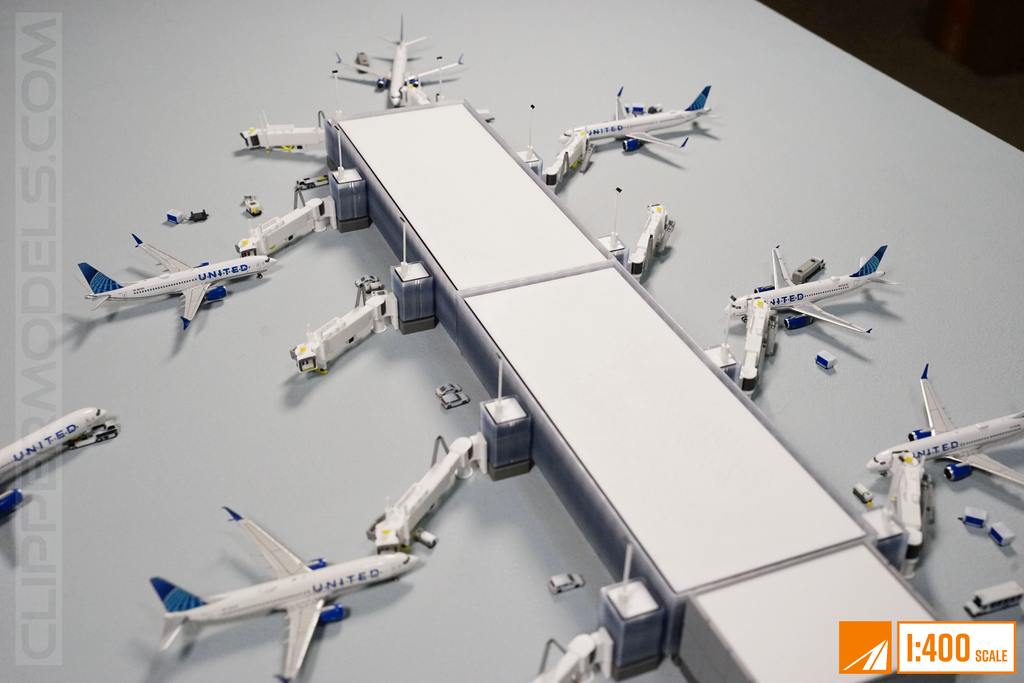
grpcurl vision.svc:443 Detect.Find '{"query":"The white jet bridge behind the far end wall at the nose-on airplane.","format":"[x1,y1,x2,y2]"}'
[401,78,439,107]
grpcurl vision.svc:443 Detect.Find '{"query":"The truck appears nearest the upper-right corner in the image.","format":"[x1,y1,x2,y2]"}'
[793,257,825,283]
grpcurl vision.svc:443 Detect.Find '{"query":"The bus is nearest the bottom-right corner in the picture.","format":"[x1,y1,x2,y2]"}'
[966,579,1024,616]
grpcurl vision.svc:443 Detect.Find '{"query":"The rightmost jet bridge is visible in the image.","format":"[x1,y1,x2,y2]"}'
[890,446,933,575]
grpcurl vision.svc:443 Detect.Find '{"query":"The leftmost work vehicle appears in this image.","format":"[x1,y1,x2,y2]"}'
[68,424,120,448]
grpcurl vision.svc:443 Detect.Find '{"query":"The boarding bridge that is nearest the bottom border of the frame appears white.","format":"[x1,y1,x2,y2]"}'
[527,626,614,683]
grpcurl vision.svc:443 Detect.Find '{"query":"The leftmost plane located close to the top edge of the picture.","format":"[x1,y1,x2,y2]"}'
[334,16,467,105]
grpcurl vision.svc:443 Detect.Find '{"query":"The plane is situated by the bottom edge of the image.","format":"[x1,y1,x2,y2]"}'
[143,507,416,683]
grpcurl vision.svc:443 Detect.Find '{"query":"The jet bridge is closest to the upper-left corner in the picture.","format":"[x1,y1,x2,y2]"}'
[241,113,327,158]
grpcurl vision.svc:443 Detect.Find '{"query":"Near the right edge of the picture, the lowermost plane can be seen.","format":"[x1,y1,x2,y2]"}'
[863,360,1024,485]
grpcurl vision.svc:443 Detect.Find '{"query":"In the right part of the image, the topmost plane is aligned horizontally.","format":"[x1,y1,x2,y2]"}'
[559,85,727,150]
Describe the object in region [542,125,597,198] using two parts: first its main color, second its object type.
white jet bridge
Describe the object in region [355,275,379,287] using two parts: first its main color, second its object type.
gray vehicle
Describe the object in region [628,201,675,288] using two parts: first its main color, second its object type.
white jet bridge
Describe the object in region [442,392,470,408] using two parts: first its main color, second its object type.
gray car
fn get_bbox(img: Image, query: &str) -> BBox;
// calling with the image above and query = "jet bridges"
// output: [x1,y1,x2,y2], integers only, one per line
[234,189,340,256]
[542,125,597,198]
[289,286,402,374]
[739,296,778,405]
[527,626,614,683]
[241,113,327,158]
[890,446,933,575]
[628,201,675,288]
[367,430,490,555]
[401,78,439,107]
